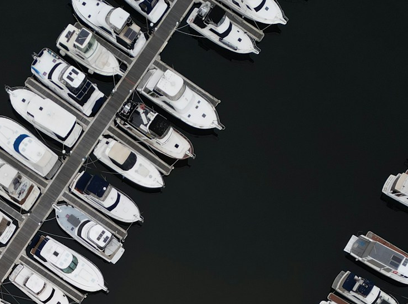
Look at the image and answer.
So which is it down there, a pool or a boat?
boat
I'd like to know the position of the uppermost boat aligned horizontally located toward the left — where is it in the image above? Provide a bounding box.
[118,0,167,23]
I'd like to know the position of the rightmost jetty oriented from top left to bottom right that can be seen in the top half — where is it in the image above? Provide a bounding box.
[197,0,262,41]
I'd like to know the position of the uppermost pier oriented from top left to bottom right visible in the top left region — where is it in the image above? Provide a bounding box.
[71,21,133,67]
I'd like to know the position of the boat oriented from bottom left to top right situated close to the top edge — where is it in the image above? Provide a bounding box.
[190,5,209,24]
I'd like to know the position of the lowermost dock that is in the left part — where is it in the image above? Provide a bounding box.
[19,253,86,303]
